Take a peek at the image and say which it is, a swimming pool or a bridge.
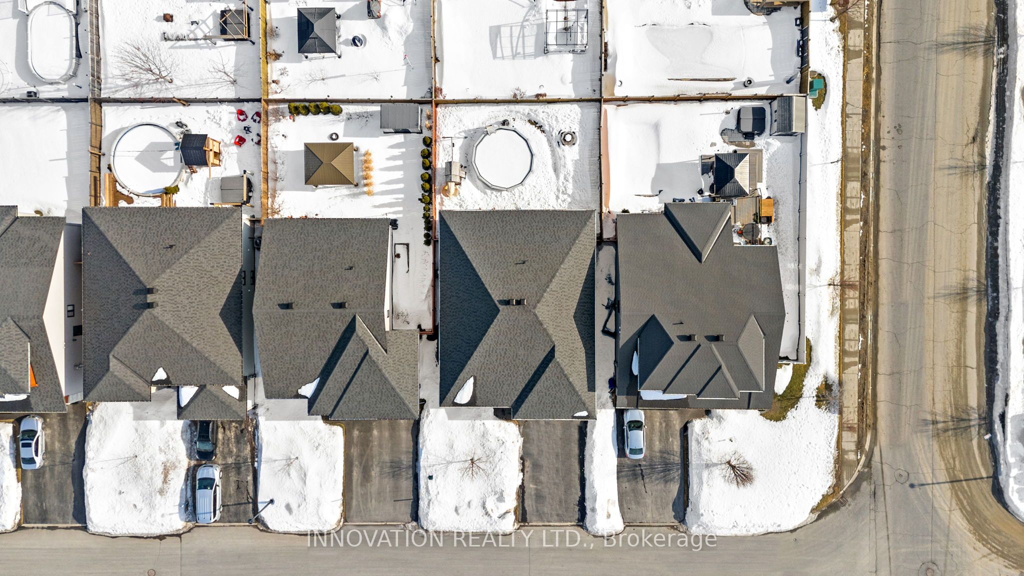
swimming pool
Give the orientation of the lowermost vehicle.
up and down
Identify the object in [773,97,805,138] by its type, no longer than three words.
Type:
shed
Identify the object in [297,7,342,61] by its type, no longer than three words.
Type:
gazebo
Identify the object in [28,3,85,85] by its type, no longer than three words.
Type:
swimming pool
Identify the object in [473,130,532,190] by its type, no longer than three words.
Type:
swimming pool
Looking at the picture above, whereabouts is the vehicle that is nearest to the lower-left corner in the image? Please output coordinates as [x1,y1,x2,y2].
[16,414,50,470]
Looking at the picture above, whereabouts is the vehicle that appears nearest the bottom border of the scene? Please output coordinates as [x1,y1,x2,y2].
[194,463,225,523]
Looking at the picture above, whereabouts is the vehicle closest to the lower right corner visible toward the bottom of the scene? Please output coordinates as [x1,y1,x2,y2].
[622,411,649,460]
